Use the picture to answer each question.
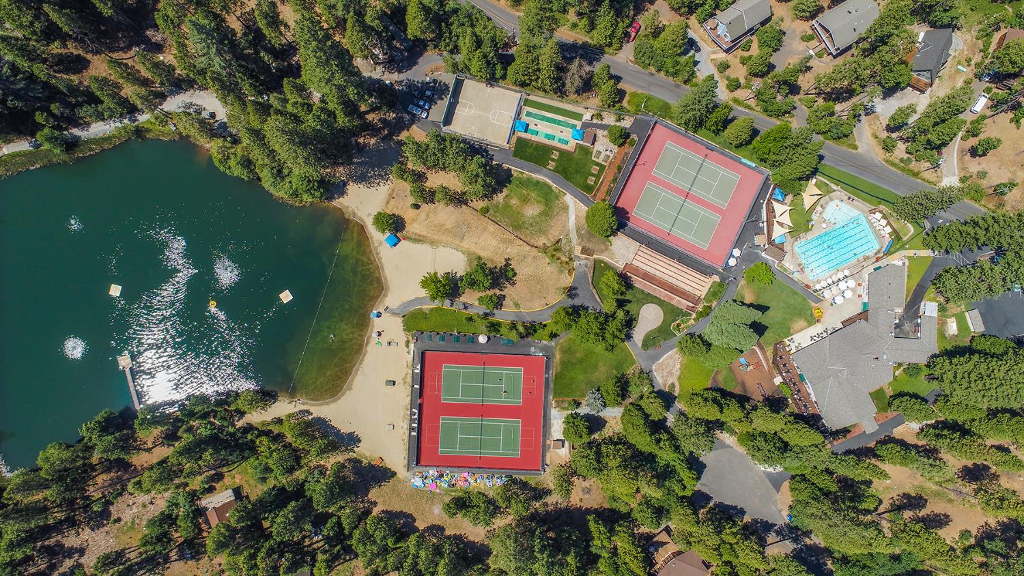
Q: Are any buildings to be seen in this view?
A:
Yes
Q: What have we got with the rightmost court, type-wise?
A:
tennis court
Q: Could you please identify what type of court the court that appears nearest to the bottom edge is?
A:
tennis court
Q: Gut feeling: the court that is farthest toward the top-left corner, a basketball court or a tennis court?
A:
basketball court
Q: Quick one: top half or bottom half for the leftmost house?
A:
bottom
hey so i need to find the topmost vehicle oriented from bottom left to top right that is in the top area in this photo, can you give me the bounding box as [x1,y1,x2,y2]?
[627,22,641,39]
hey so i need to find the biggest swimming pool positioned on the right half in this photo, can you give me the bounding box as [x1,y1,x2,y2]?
[785,192,896,288]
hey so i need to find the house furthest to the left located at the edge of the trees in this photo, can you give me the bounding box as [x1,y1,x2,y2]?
[199,491,240,526]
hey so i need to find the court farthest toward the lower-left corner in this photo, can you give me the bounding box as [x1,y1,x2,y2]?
[417,351,546,470]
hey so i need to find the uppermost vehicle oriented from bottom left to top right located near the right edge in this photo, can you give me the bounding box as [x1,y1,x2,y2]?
[973,93,989,113]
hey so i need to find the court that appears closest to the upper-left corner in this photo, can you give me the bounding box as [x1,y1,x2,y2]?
[443,77,522,145]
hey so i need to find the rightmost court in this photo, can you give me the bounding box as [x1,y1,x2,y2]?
[615,123,767,267]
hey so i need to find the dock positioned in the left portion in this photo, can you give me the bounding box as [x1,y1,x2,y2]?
[116,355,139,410]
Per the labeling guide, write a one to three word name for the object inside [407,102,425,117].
vehicle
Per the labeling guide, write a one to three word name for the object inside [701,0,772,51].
house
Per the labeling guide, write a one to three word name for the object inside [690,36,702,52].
vehicle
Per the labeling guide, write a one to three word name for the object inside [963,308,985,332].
shed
